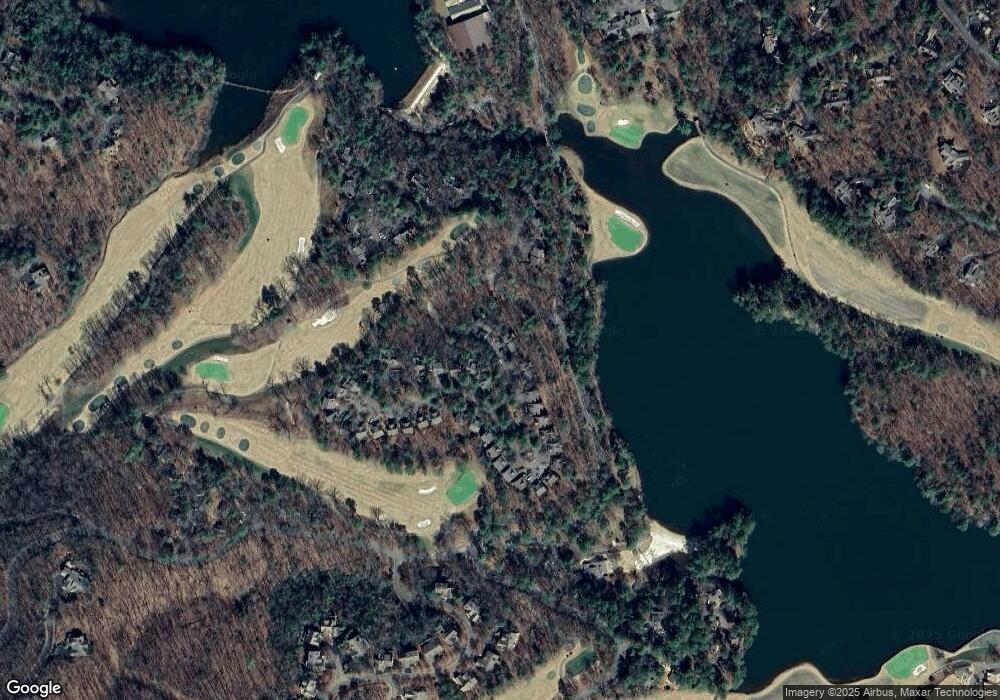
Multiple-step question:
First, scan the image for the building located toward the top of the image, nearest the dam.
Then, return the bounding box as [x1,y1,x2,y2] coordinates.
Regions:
[447,12,496,55]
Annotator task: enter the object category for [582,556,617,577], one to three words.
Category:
house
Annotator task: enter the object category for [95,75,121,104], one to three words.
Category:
house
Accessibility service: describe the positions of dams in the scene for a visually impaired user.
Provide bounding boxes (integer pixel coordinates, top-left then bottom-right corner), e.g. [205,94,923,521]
[400,59,449,113]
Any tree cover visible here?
Yes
